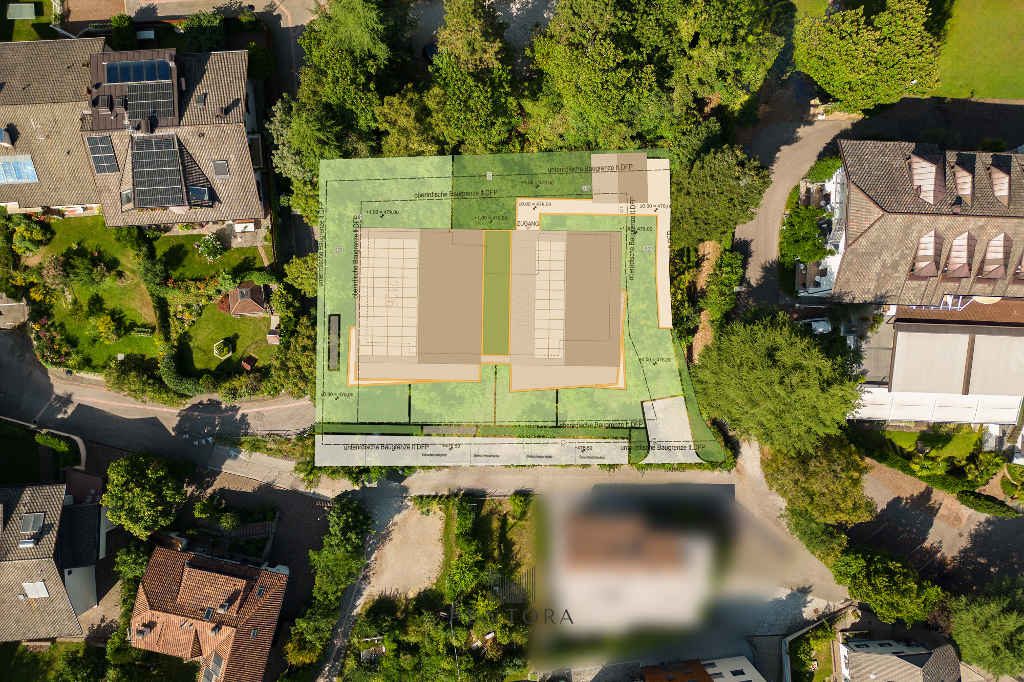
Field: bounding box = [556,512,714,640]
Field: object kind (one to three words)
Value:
house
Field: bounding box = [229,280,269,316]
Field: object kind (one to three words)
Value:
building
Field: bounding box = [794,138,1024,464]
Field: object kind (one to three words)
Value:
building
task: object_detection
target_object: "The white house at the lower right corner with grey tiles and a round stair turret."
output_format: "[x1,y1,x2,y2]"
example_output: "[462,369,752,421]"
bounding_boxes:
[825,621,961,682]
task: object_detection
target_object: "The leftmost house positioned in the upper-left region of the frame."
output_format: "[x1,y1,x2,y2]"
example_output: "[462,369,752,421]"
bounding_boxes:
[0,36,112,210]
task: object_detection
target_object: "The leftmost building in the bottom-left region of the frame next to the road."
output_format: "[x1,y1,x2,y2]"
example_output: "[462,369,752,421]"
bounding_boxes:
[0,466,125,642]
